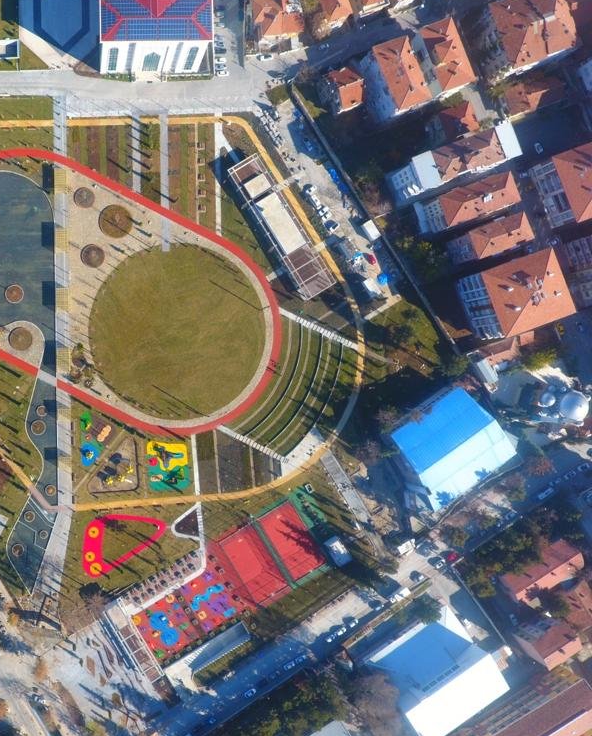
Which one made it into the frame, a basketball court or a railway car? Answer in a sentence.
It is a basketball court that can be seen here.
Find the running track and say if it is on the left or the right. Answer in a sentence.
It is on the left.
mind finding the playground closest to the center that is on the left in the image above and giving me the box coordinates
[146,441,190,492]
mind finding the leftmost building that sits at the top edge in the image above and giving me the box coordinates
[99,0,213,81]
